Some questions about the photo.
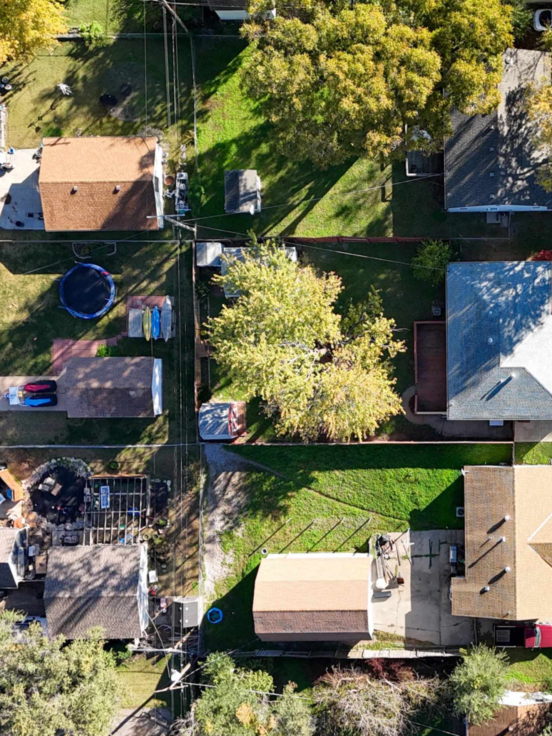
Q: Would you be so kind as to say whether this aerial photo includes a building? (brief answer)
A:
Yes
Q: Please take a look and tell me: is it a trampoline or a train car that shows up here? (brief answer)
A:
trampoline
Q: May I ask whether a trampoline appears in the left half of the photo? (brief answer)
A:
Yes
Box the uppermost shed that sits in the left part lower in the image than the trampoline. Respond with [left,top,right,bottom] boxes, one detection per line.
[60,357,163,417]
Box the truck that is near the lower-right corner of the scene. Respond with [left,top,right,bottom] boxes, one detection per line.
[491,620,552,649]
